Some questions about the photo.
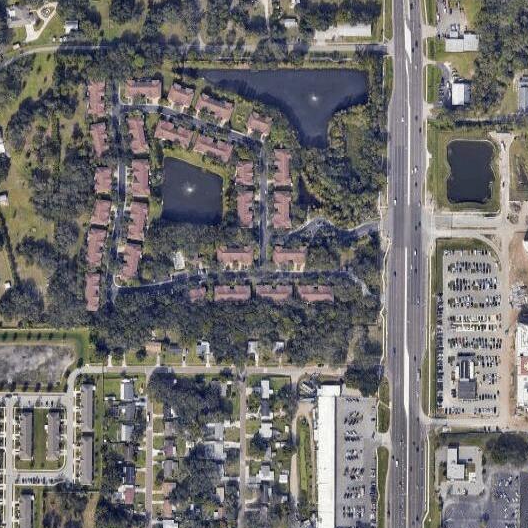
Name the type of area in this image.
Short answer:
residential area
